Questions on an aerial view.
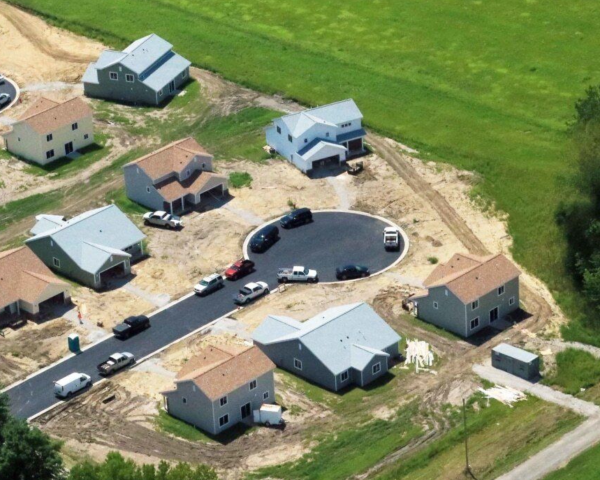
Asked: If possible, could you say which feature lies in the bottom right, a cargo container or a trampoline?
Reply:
cargo container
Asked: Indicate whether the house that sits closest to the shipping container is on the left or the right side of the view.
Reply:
right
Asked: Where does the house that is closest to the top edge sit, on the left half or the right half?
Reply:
left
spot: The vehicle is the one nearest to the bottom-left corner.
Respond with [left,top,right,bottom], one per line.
[52,372,92,396]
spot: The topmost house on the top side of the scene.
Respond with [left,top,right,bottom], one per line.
[82,34,190,104]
